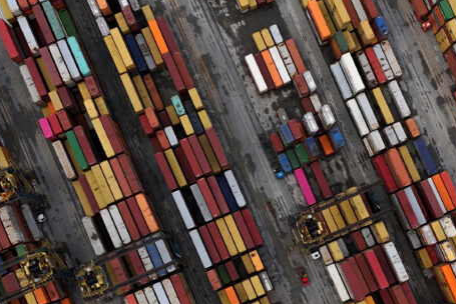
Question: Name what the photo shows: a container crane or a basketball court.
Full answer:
It is a container crane that can be seen here.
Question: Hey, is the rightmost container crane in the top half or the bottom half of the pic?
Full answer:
The bottom half of the photo is where the rightmost container crane is.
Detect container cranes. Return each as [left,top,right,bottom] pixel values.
[0,234,82,303]
[280,174,401,253]
[0,163,53,207]
[69,221,191,304]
